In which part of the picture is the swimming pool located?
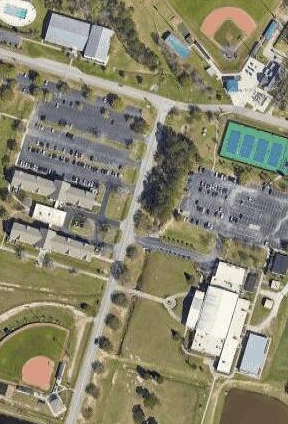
top left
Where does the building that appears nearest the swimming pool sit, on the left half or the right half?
left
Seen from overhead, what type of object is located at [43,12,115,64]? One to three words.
building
